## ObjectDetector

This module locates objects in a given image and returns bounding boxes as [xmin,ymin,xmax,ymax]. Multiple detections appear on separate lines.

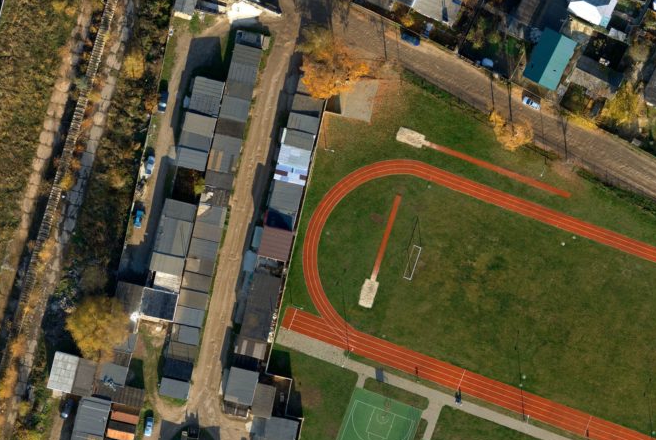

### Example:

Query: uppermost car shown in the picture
[402,32,420,44]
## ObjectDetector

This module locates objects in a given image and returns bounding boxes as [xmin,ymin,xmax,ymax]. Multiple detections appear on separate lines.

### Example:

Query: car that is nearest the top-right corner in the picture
[520,95,540,109]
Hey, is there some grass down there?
Yes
